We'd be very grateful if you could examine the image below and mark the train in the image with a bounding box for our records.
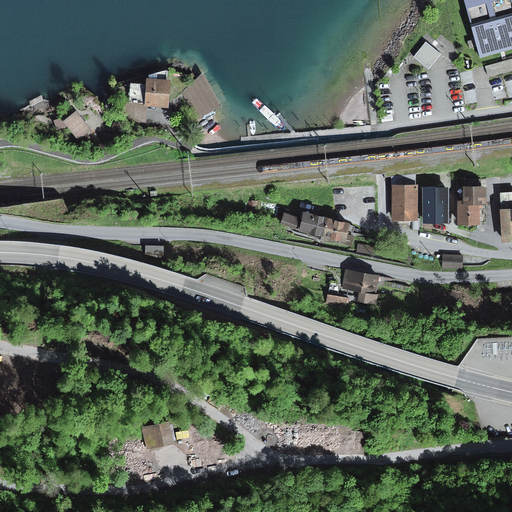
[257,138,512,173]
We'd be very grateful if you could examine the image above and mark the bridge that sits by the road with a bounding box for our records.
[0,241,458,390]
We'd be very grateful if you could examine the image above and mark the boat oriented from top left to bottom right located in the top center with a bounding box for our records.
[251,97,285,131]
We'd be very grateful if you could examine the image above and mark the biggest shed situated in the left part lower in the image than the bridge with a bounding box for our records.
[142,423,176,449]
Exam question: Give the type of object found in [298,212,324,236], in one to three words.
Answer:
house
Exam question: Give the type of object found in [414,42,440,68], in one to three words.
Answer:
building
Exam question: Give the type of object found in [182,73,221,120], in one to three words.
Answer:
building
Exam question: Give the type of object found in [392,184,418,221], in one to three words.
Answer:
house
